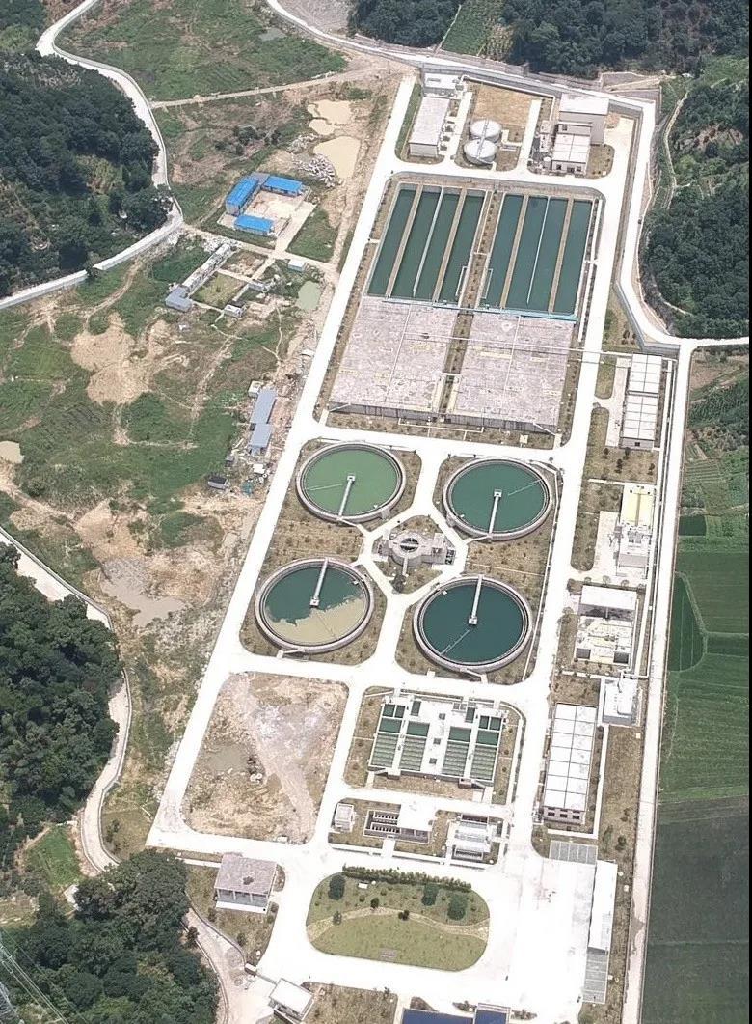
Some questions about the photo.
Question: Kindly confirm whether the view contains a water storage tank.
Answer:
Yes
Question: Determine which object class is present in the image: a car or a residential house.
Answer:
residential house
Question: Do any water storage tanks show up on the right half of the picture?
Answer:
Yes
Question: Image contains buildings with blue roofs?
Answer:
Yes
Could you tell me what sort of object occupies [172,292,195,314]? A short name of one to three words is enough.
shed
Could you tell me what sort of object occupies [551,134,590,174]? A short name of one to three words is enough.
building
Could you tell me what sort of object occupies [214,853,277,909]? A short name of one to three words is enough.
house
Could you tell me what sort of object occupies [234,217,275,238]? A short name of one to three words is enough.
building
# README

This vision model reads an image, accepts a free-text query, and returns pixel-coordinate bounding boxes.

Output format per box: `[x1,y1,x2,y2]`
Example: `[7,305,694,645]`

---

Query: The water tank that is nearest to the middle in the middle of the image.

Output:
[296,441,406,531]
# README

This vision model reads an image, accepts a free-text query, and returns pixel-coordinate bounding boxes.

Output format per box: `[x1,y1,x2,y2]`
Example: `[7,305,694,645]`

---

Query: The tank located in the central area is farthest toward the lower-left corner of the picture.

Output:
[256,557,374,655]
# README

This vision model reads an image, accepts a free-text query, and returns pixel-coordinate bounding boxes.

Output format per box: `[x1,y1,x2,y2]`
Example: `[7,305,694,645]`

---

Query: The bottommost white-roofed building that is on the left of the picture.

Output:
[268,977,313,1019]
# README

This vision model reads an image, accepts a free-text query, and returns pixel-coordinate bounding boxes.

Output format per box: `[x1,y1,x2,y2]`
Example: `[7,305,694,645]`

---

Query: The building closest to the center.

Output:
[372,527,474,576]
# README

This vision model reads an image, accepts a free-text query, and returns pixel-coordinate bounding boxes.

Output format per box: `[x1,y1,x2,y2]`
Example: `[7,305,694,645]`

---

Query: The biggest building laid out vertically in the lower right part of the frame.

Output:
[544,702,597,821]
